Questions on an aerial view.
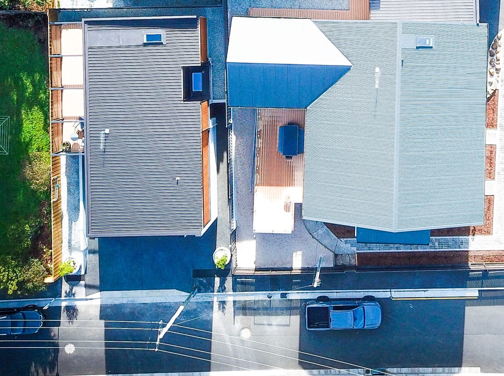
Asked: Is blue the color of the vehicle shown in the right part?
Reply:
Yes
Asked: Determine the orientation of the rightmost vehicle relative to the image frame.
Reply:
horizontally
